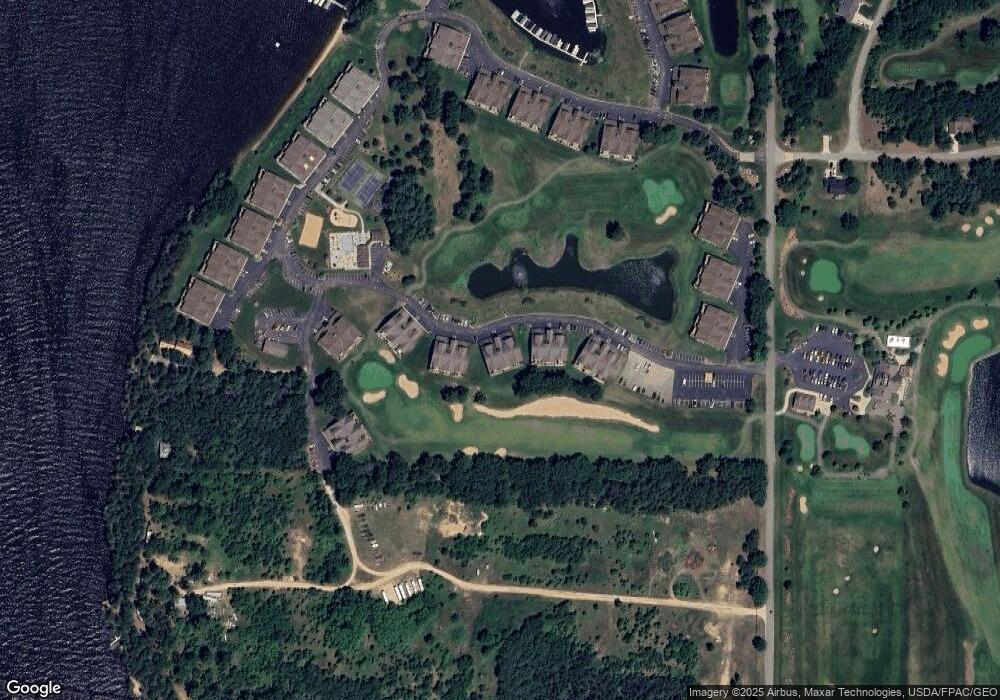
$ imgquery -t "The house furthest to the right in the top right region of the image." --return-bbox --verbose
[947,118,975,134]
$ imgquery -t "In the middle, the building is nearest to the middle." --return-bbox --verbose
[481,334,523,377]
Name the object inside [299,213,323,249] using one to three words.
sports court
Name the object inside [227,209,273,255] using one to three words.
building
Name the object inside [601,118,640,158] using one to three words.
building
